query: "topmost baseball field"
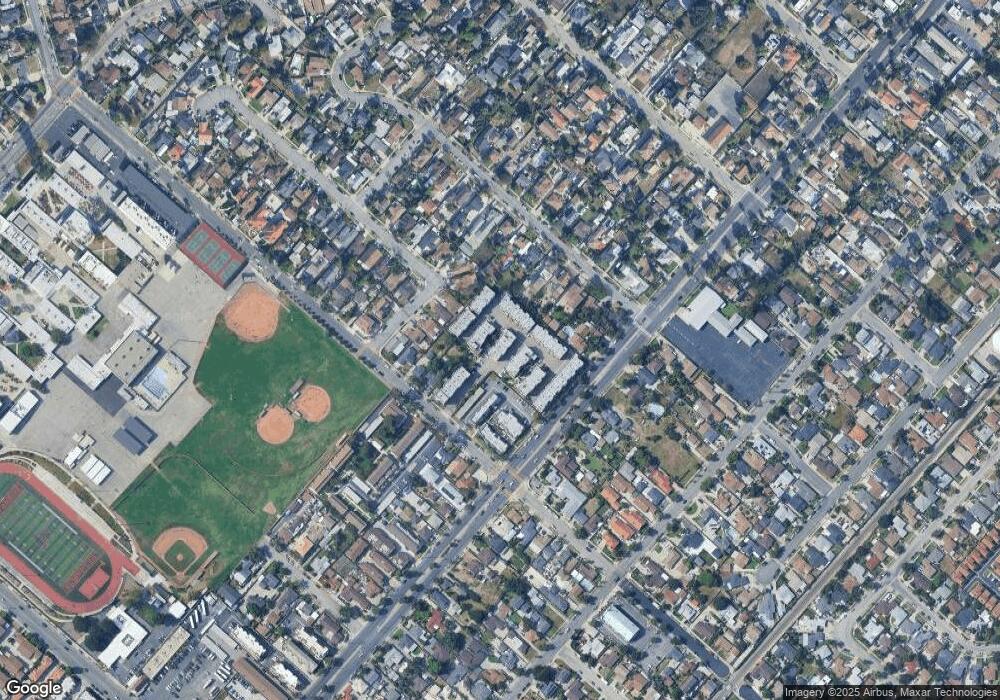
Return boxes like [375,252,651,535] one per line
[225,280,280,342]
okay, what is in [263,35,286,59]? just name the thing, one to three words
house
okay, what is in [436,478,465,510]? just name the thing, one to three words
building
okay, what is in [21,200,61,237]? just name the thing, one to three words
building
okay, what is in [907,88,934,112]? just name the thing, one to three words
house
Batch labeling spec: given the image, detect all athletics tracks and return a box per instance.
[0,461,137,614]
